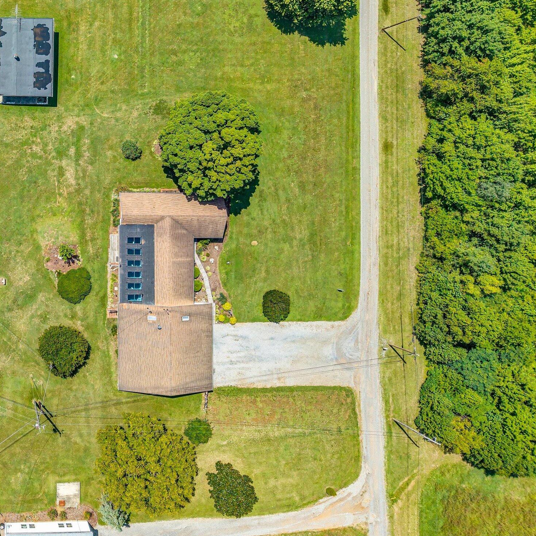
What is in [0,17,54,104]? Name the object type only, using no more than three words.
shed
